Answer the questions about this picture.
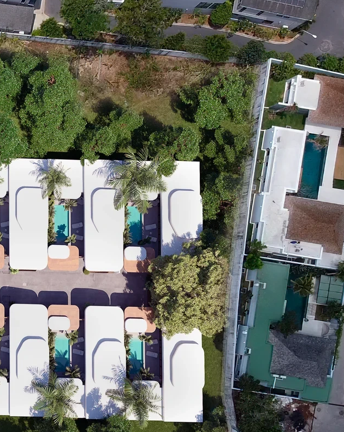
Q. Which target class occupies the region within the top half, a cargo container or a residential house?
residential house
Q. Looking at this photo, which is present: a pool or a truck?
pool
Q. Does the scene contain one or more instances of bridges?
No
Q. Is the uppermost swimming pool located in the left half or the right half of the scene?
right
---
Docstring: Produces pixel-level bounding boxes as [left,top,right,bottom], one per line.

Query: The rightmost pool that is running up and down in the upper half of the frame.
[296,131,331,200]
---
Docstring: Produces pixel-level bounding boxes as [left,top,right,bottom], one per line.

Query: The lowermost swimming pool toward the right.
[284,273,311,330]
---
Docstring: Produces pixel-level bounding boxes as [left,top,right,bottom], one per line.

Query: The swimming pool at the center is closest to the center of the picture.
[126,203,145,246]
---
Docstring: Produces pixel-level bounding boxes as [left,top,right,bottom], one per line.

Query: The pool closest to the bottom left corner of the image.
[52,333,72,376]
